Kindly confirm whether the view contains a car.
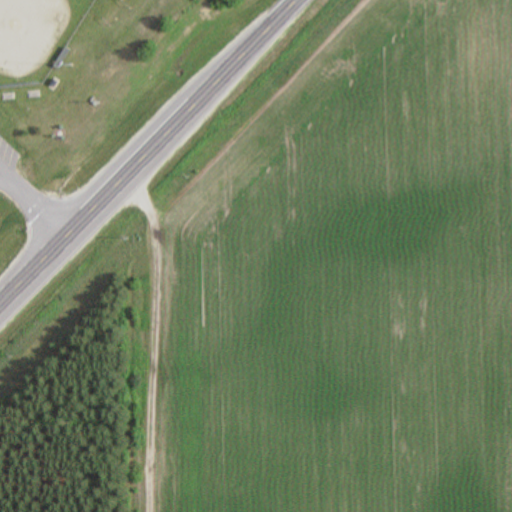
No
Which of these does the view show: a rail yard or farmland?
farmland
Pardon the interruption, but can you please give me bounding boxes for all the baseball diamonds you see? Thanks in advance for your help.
[0,0,72,80]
